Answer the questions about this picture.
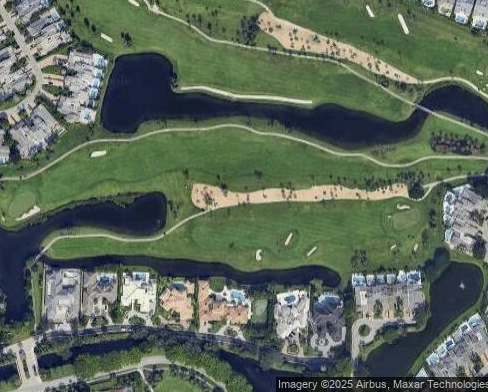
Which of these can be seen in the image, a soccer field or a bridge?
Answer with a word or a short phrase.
bridge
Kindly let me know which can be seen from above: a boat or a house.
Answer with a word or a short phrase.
house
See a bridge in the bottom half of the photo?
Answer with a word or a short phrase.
Yes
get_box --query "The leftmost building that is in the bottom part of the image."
[47,269,81,321]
